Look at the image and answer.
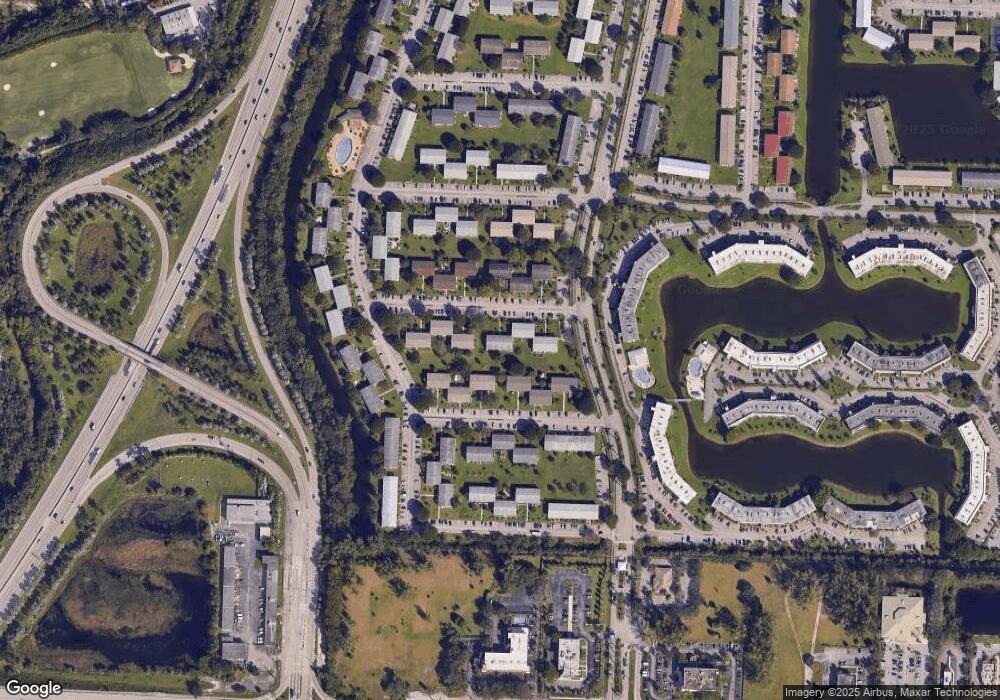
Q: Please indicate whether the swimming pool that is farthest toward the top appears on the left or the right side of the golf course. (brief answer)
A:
on its right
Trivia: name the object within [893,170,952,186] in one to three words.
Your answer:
house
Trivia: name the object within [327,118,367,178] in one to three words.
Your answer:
swimming pool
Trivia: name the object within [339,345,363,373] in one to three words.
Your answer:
house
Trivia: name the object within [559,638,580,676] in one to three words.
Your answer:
building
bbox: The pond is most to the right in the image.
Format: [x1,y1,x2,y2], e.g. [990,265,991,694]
[956,584,1000,638]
